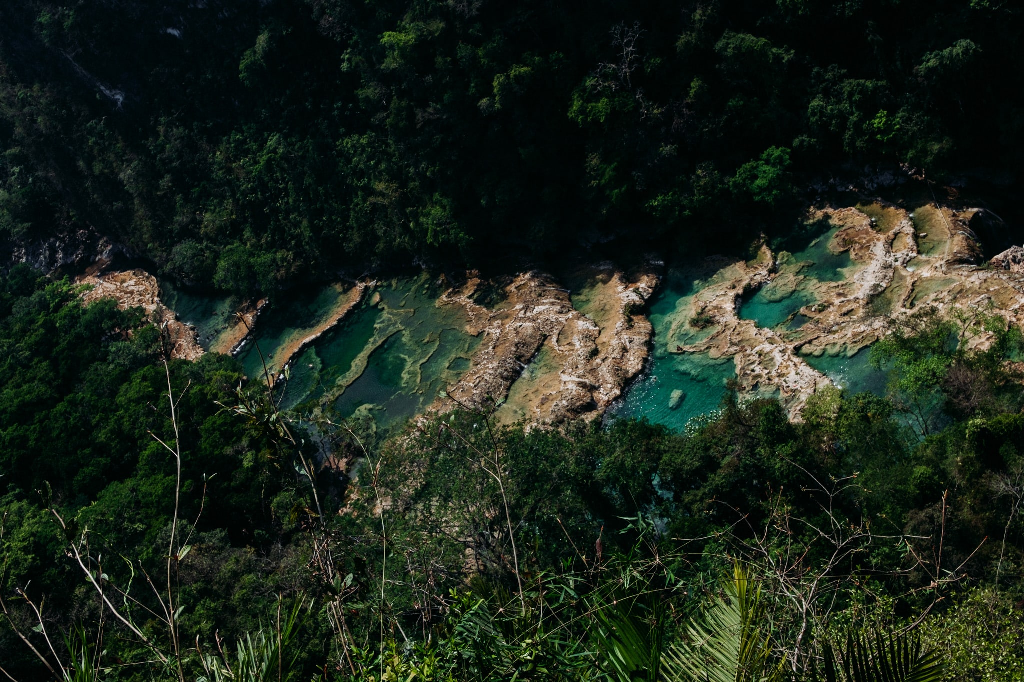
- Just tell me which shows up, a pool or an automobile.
pool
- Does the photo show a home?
No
